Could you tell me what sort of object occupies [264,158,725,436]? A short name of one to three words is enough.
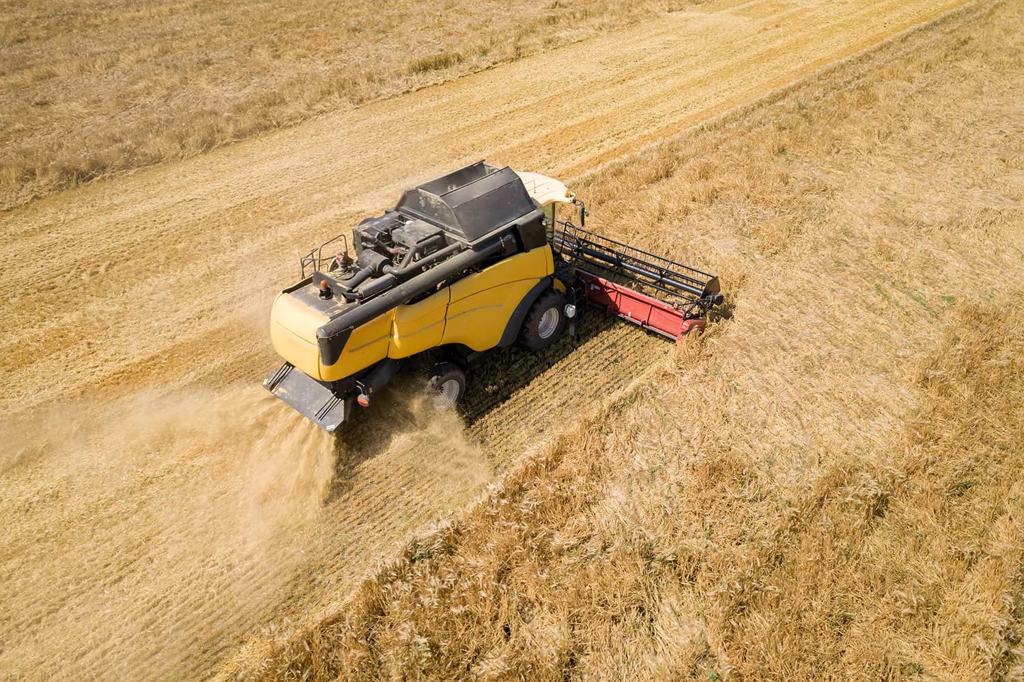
work vehicle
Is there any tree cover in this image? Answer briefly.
No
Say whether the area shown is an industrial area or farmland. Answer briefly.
farmland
